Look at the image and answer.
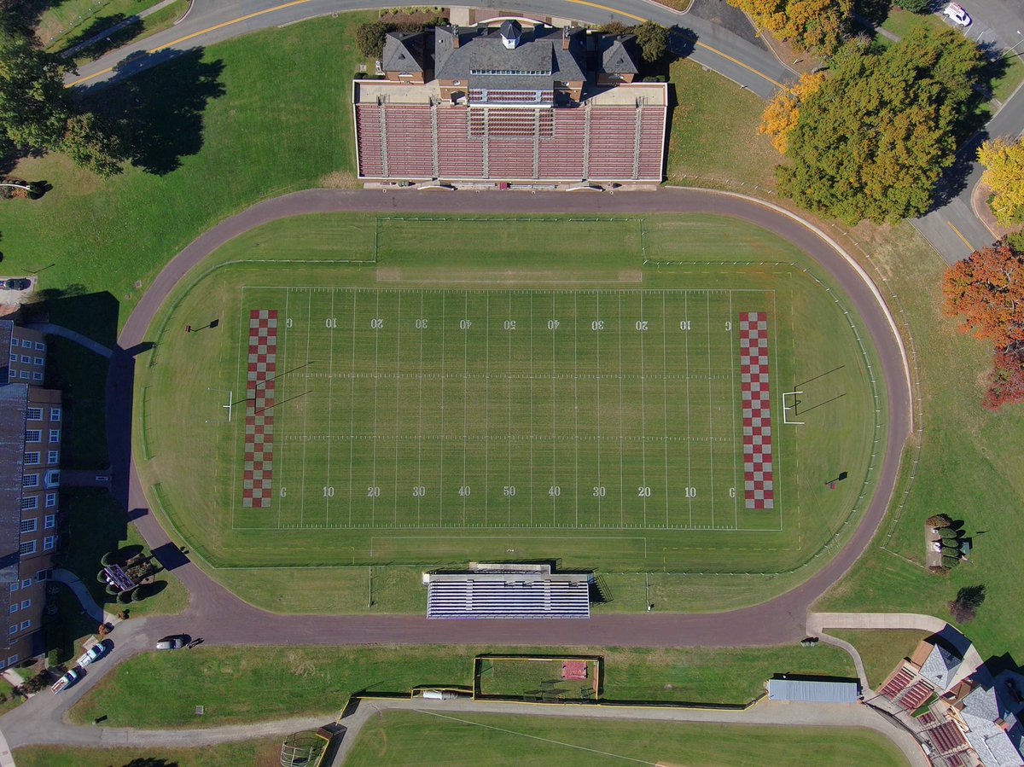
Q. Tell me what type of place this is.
sports ground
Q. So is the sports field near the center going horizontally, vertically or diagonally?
horizontally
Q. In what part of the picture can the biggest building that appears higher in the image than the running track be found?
top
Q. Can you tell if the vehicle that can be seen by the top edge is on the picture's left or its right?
right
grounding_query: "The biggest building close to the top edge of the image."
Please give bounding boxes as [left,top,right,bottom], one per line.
[435,17,587,109]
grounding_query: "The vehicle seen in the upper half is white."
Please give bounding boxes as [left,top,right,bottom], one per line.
[944,0,972,23]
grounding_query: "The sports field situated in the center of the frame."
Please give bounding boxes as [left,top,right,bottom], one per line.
[207,263,807,556]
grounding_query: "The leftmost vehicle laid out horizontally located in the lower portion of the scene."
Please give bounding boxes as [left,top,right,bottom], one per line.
[155,638,181,650]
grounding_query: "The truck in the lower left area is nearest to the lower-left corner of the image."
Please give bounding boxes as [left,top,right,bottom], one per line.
[46,669,79,699]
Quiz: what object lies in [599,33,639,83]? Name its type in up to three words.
building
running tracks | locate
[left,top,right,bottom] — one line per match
[105,188,910,648]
